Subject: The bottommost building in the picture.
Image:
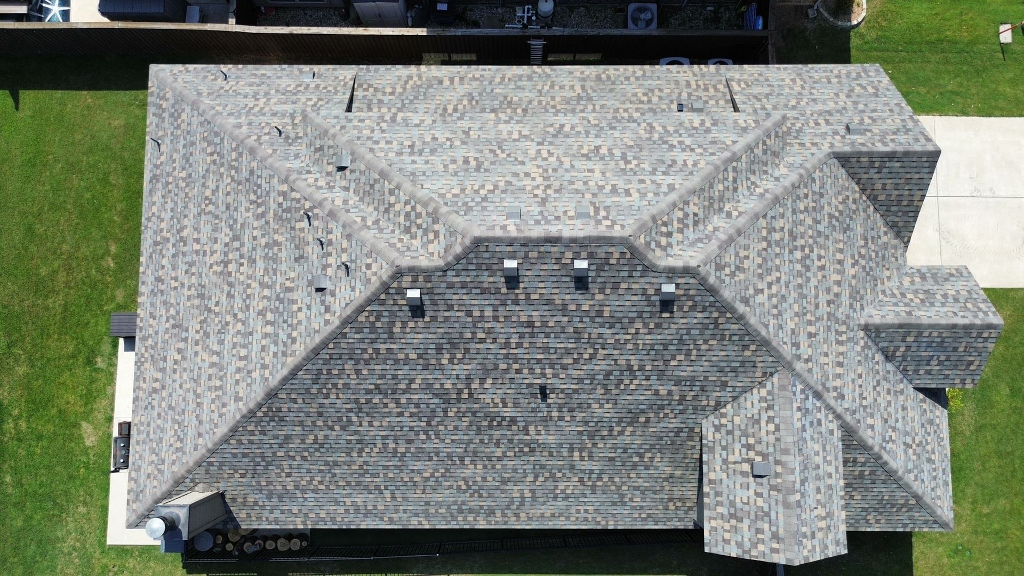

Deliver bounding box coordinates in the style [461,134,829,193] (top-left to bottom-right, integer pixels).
[126,64,1003,566]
